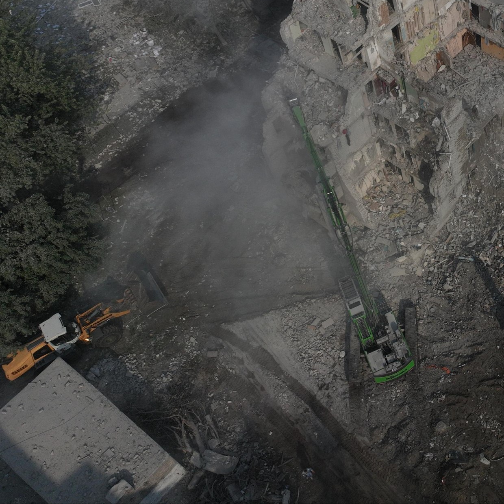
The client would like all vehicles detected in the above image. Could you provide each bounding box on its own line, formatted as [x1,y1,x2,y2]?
[286,92,421,389]
[8,284,155,390]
